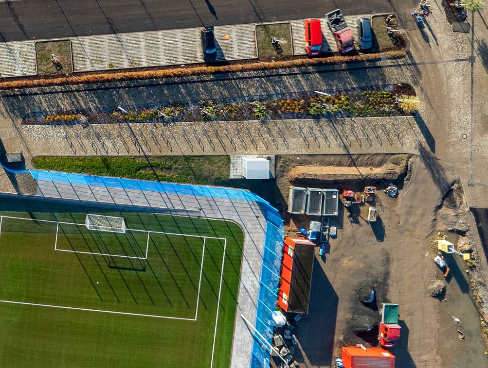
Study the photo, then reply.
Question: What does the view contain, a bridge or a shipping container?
shipping container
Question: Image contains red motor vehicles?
Yes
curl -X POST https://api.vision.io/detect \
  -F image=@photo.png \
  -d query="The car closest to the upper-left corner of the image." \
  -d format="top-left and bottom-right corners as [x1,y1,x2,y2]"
[202,23,218,59]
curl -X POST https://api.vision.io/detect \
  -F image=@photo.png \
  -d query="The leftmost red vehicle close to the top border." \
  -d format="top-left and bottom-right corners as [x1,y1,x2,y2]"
[302,17,322,54]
